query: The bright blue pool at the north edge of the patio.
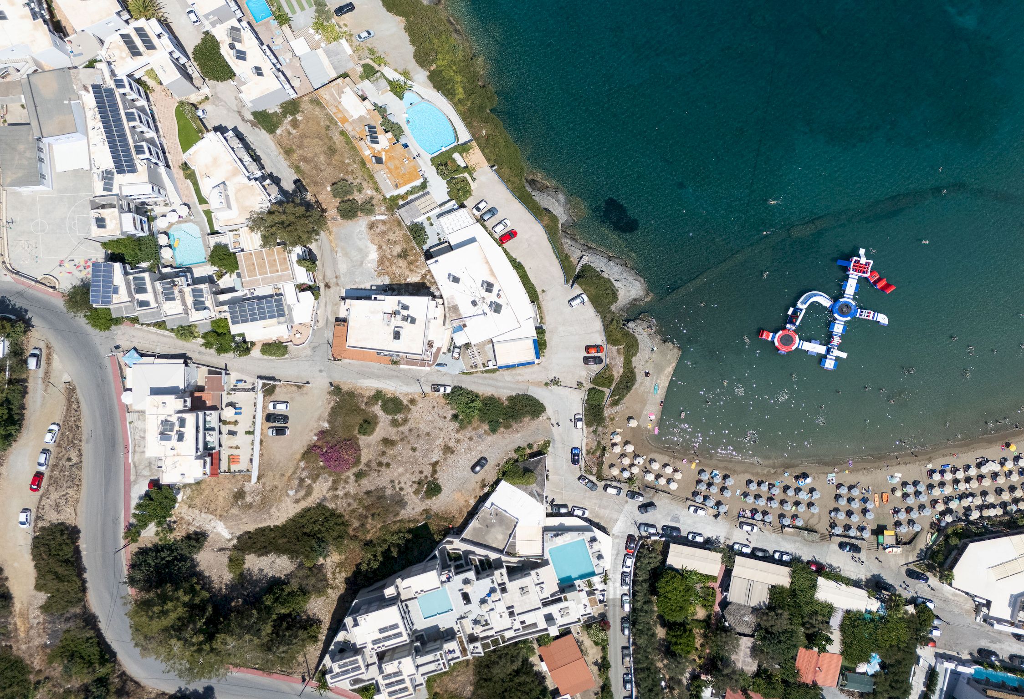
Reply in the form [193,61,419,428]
[246,0,275,25]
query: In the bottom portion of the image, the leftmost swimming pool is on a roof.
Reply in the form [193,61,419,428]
[415,584,456,621]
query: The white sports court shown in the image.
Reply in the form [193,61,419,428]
[7,169,106,287]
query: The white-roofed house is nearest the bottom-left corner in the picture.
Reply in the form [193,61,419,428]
[146,375,231,483]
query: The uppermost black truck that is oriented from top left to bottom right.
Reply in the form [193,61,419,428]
[289,174,310,196]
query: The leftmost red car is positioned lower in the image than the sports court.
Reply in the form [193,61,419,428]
[30,471,45,492]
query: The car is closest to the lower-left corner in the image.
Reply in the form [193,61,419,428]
[19,506,33,529]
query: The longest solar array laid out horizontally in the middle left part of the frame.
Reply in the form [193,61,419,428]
[229,297,285,324]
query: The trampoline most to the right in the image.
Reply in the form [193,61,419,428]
[832,297,857,322]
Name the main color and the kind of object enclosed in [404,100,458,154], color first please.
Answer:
blue swimming pool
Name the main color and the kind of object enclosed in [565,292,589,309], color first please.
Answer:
white vehicle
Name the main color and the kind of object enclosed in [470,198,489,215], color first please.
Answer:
white car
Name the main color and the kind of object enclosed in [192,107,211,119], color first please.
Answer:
white vehicle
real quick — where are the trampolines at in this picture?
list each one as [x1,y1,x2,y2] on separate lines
[832,297,857,322]
[774,328,799,353]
